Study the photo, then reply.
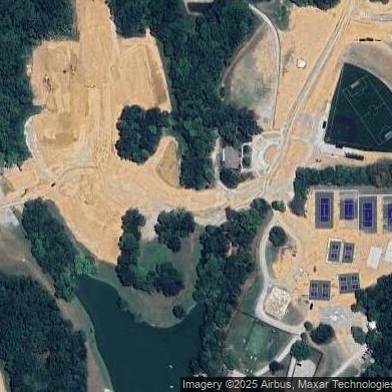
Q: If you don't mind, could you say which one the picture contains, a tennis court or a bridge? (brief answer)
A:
tennis court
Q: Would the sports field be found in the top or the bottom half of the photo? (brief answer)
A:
top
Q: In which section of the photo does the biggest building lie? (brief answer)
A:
center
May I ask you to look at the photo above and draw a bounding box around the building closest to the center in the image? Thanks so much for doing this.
[222,146,241,170]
